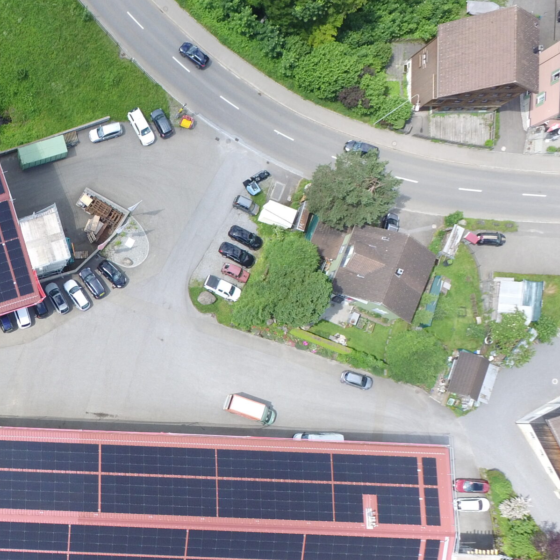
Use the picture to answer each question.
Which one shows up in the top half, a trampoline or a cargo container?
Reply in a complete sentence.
Visible in the top half is a cargo container.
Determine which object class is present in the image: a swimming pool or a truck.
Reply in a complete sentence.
I can see a truck in this picture.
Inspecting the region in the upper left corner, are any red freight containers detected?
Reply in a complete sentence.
No, the scene shows no red freight container in the upper left corner.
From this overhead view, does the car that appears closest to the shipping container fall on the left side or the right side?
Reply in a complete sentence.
The car that appears closest to the shipping container appears in the left half of the scene.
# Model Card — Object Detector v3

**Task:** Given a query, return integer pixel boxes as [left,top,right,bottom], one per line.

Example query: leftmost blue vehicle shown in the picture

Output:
[0,311,15,333]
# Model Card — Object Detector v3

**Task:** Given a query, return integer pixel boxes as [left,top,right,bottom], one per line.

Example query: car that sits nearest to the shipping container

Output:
[88,122,123,145]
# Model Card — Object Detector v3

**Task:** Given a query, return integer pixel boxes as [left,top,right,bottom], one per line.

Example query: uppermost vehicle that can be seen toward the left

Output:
[175,42,213,72]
